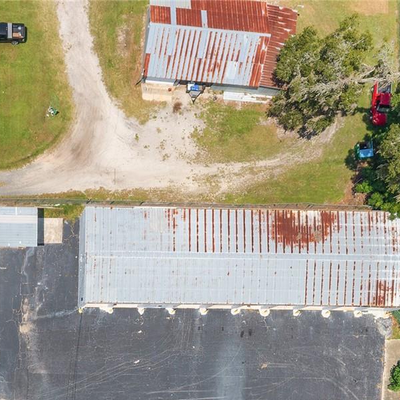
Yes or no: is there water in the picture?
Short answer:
No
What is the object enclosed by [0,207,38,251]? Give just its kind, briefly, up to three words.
shed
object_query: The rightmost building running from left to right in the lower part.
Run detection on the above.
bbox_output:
[78,206,400,314]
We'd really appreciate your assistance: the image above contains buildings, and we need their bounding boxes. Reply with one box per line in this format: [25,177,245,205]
[139,0,299,100]
[78,206,400,314]
[0,207,38,251]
